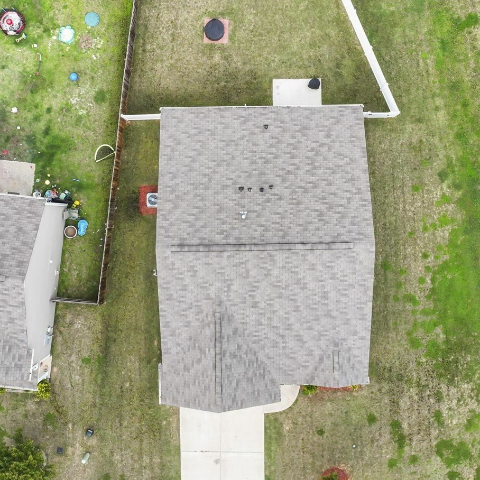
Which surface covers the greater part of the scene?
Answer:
grass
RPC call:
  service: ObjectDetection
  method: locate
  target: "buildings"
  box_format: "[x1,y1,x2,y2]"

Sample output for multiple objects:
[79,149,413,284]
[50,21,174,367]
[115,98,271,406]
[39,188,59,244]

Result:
[155,104,375,411]
[0,191,66,389]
